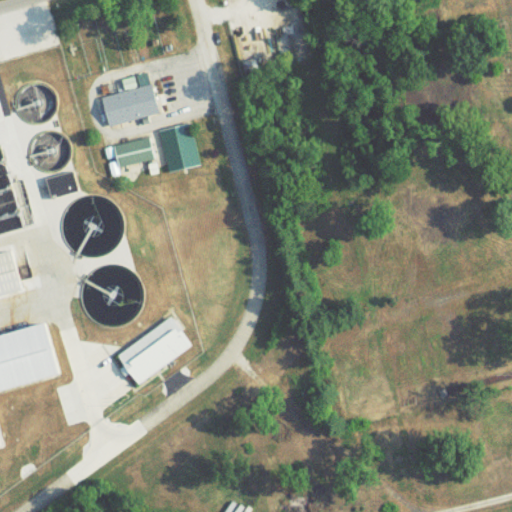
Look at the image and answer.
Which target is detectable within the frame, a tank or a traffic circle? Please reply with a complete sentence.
Of the two, only a tank appears.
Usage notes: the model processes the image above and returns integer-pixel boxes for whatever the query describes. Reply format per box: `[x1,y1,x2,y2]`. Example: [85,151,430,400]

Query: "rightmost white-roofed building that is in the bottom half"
[118,319,192,385]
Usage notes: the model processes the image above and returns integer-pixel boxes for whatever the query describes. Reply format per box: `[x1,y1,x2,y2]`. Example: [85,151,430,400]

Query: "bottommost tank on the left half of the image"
[78,264,143,327]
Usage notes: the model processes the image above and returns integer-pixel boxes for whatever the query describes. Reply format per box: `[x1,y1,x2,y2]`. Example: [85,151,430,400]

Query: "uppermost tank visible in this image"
[10,81,57,124]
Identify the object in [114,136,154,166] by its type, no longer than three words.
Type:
shed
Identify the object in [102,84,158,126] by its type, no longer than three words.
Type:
building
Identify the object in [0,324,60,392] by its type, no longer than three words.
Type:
building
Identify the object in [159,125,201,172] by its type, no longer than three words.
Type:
barn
